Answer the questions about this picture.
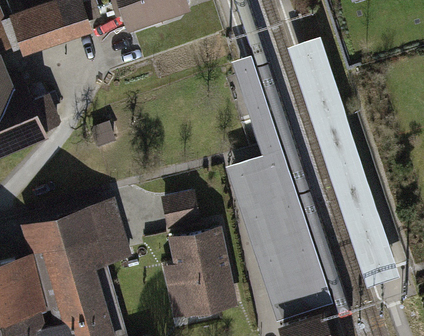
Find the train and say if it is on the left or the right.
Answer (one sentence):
It is on the right.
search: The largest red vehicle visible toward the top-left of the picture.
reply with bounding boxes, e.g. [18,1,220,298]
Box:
[94,18,126,36]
